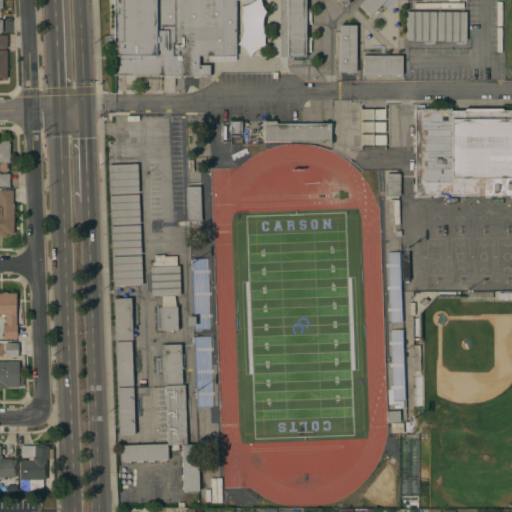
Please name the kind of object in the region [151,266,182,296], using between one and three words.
building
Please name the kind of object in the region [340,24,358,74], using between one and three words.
building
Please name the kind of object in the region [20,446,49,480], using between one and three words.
house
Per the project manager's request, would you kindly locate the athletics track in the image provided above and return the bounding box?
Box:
[212,144,388,506]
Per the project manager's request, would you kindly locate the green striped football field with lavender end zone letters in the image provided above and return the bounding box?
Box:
[232,210,368,443]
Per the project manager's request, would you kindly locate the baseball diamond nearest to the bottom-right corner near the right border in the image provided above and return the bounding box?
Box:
[414,296,512,508]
